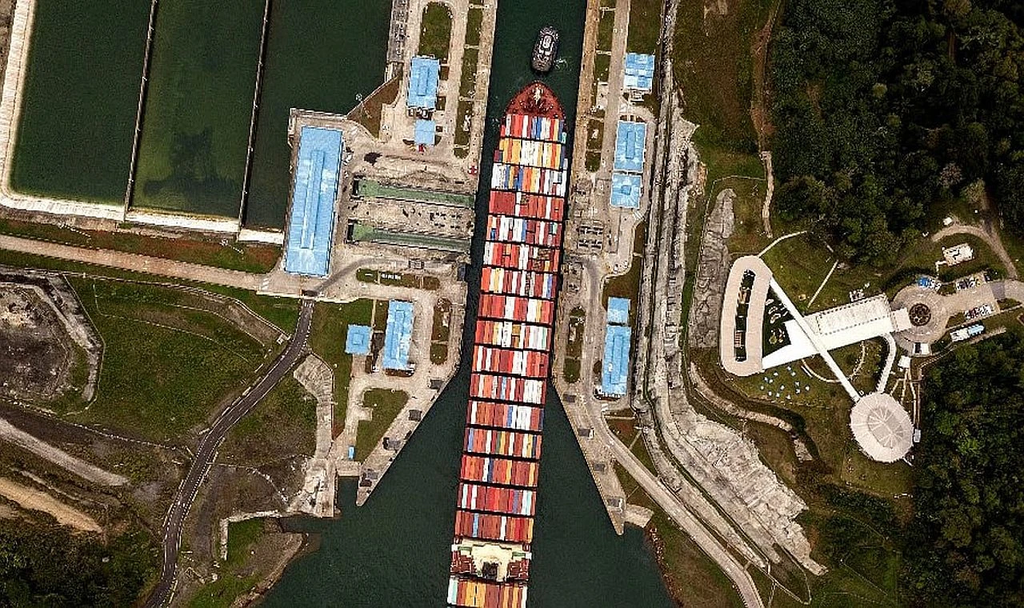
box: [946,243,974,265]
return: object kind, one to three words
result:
house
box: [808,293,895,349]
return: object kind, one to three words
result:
building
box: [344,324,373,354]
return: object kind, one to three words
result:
building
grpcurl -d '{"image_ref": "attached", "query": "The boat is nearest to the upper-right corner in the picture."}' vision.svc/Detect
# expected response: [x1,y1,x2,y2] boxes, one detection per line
[532,25,558,75]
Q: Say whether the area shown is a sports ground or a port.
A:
port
